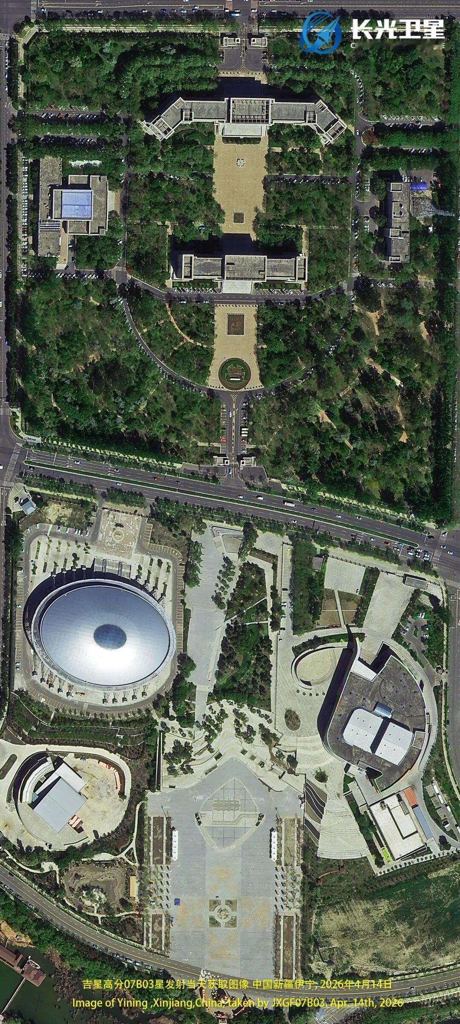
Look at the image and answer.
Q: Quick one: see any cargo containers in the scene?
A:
No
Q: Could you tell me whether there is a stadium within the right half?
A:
No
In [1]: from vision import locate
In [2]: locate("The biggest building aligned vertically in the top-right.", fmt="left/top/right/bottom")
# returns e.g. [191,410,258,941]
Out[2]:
[383,182,411,263]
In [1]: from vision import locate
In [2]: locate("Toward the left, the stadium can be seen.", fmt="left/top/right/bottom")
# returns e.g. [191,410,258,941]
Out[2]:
[30,558,175,703]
